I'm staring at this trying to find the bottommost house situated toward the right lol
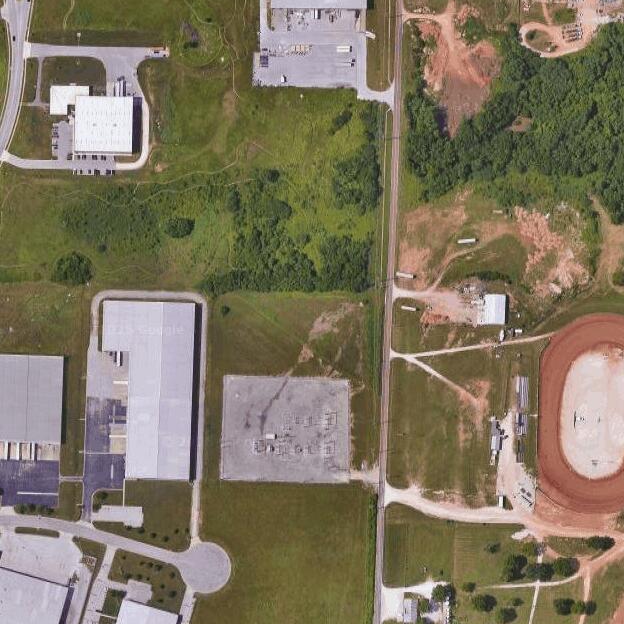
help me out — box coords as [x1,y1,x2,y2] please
[403,599,418,624]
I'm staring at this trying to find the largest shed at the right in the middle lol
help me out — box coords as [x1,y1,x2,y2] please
[483,294,506,325]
